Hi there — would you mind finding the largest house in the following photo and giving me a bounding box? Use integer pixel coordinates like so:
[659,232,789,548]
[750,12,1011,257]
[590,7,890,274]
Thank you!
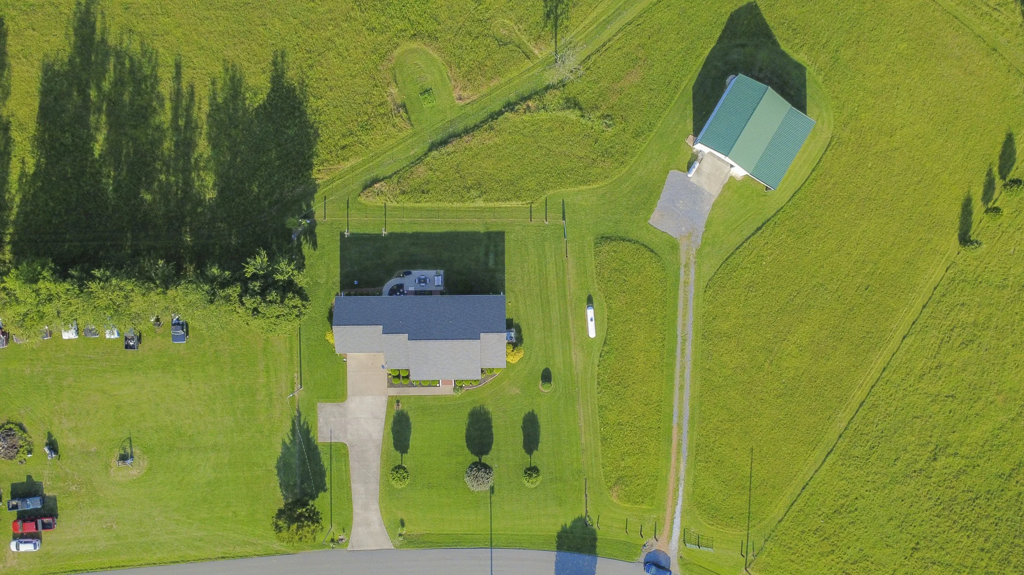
[332,290,506,389]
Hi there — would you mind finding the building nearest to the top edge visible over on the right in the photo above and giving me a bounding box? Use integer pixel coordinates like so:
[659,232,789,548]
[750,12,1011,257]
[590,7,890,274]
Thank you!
[691,73,816,191]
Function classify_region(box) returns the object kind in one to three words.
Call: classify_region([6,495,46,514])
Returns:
vehicle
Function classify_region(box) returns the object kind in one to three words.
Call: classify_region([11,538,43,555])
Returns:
car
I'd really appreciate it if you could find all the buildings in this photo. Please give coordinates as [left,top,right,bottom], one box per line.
[691,73,816,191]
[332,290,506,389]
